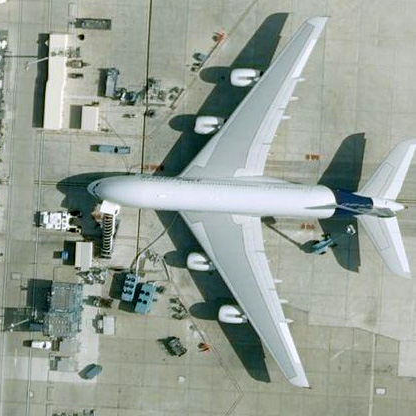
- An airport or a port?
airport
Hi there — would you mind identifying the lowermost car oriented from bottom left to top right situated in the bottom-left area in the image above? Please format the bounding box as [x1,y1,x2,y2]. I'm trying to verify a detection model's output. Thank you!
[83,362,104,380]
